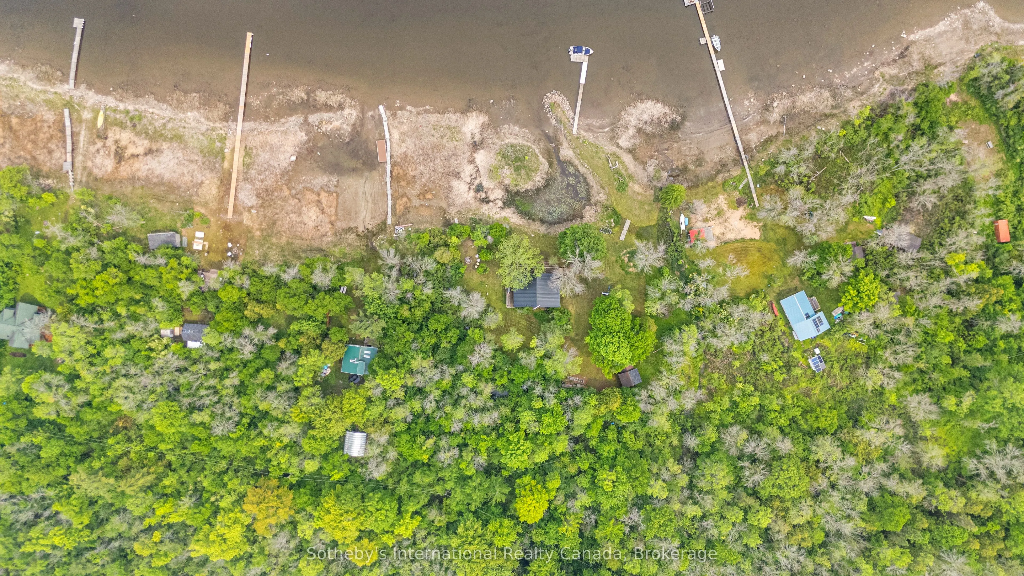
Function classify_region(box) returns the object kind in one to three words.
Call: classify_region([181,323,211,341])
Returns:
building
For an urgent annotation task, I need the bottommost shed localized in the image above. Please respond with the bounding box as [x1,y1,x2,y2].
[344,432,367,458]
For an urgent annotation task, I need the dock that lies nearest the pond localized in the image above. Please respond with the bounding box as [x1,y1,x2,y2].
[569,55,589,135]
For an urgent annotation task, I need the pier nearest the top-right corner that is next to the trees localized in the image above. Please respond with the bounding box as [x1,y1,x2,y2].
[684,0,757,205]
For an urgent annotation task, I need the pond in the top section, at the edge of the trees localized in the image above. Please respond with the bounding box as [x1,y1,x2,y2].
[509,150,592,224]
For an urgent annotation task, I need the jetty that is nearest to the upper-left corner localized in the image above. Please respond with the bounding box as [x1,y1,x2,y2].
[69,18,85,89]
